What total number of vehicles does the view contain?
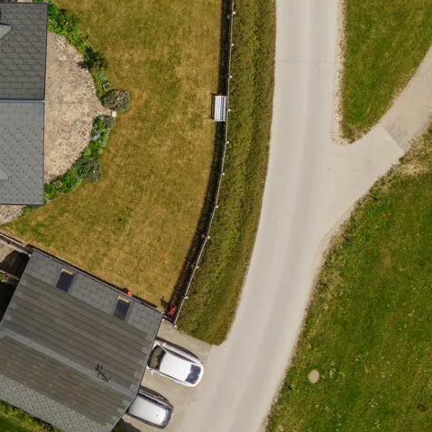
2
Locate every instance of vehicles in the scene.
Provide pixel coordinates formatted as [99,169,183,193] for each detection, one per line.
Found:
[143,337,206,390]
[120,383,173,428]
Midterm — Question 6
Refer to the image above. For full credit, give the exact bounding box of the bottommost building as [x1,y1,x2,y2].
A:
[0,247,165,432]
